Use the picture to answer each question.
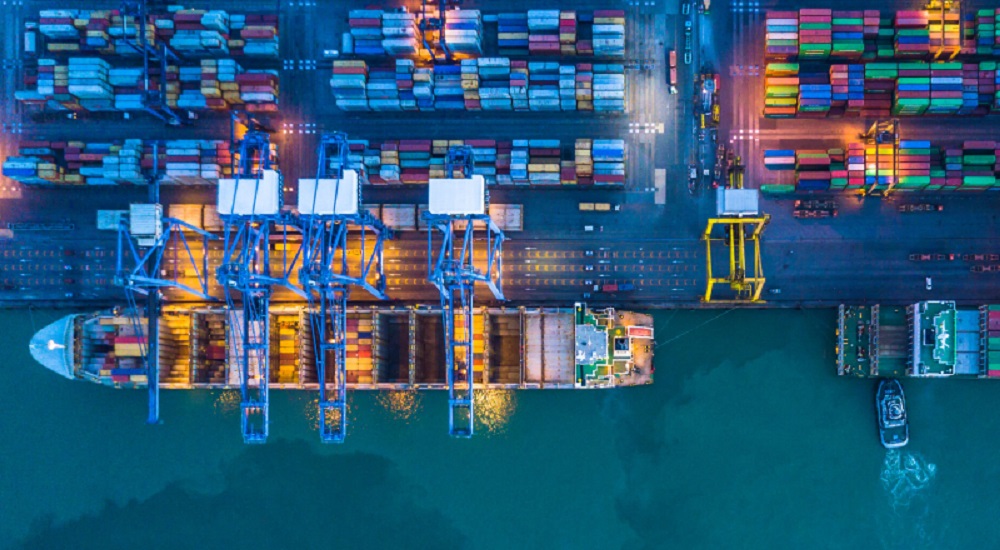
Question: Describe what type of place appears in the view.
port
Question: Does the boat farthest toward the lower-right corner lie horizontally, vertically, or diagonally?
vertically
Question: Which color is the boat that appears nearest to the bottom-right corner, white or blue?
blue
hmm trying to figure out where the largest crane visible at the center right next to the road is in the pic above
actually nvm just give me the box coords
[696,172,774,309]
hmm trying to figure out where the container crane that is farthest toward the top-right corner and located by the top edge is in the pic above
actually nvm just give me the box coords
[926,0,965,62]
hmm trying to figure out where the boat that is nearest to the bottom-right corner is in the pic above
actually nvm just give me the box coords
[874,380,909,447]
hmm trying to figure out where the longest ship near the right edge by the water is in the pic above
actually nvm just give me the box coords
[835,301,987,380]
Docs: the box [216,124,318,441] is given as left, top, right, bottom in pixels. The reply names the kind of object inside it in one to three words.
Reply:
container crane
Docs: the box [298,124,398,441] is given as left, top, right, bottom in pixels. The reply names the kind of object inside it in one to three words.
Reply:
container crane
